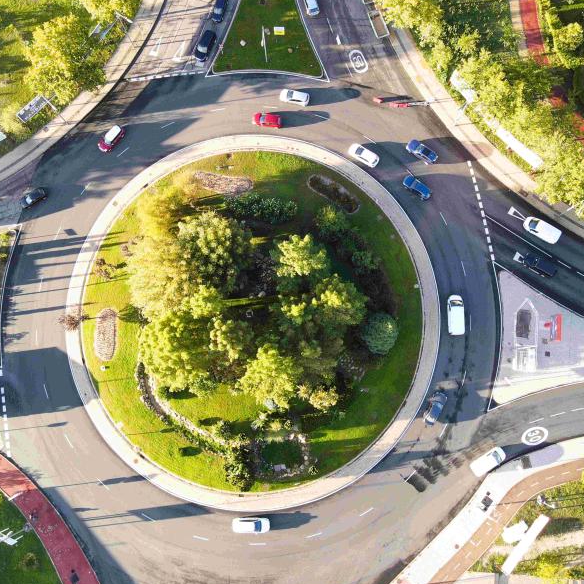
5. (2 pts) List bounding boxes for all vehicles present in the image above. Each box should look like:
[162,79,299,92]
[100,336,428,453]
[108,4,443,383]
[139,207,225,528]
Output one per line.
[445,293,466,335]
[398,172,434,202]
[19,183,54,211]
[346,141,383,170]
[276,87,312,107]
[421,388,448,426]
[191,27,221,66]
[402,138,441,167]
[519,215,563,246]
[251,112,284,130]
[209,0,232,27]
[520,247,563,281]
[470,444,507,476]
[97,123,127,155]
[232,513,271,534]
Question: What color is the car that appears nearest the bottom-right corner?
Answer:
white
